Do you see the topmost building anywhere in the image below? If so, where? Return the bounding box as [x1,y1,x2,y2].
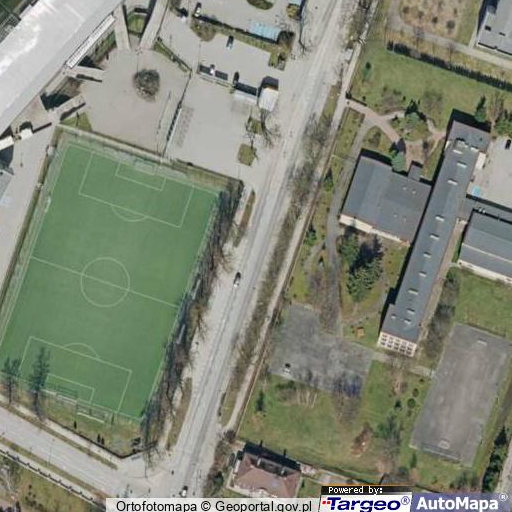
[475,0,512,61]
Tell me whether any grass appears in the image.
Yes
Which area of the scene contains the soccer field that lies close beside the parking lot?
left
